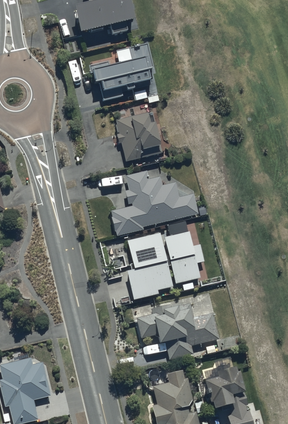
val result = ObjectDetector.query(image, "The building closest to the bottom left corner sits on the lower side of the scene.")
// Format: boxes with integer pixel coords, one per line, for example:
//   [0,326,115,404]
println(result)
[0,358,50,424]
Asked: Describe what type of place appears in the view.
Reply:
residential area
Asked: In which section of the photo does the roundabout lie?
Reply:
top left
